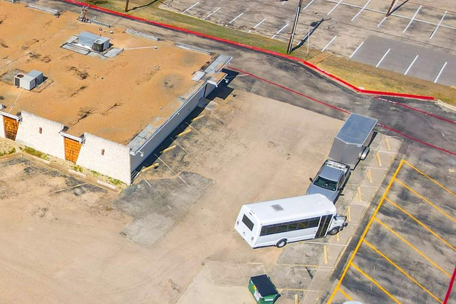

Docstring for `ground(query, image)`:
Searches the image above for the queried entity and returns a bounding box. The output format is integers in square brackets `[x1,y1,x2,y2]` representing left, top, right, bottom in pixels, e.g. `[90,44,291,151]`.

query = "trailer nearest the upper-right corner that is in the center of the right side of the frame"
[327,113,375,164]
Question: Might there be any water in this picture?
No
